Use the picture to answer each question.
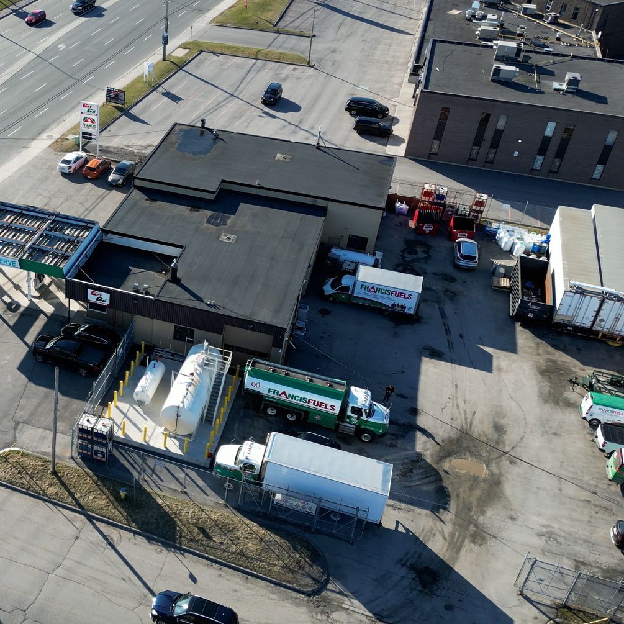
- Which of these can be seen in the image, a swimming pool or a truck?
truck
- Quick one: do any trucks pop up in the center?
Yes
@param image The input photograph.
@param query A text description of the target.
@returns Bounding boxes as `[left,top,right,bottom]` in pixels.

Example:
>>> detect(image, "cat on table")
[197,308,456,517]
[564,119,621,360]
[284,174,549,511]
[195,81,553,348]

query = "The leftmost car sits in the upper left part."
[20,7,45,24]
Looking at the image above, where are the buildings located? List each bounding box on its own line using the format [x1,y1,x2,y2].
[64,121,397,375]
[400,38,624,192]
